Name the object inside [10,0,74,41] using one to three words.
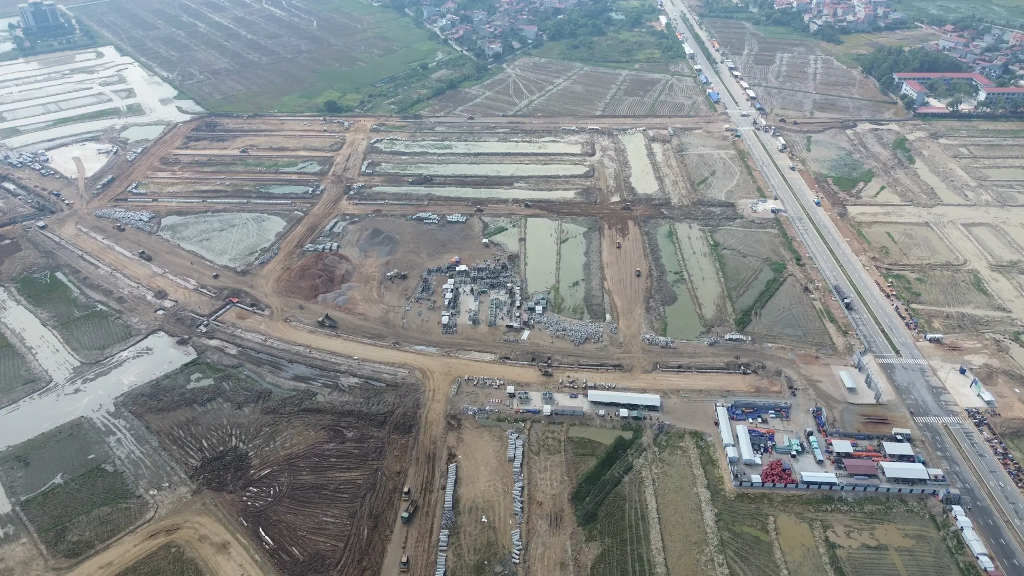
building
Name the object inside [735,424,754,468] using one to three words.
shed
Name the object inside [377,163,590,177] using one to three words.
pond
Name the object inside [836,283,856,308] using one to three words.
vehicle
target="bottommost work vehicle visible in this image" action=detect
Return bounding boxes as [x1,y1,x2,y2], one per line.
[398,551,410,573]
